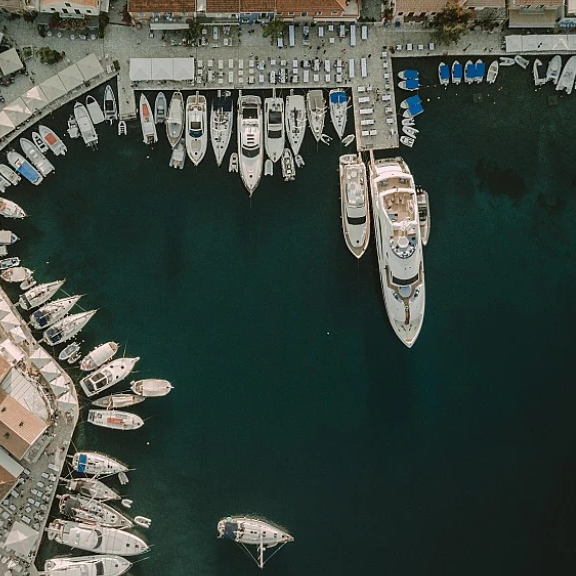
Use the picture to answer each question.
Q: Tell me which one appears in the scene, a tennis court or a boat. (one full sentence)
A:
I can see a boat in this picture.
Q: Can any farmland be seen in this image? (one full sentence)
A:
No, the scene doesn't show any farmland.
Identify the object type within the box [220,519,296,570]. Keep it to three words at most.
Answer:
boat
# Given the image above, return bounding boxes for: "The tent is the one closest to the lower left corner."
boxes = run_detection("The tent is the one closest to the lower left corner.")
[6,520,42,559]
